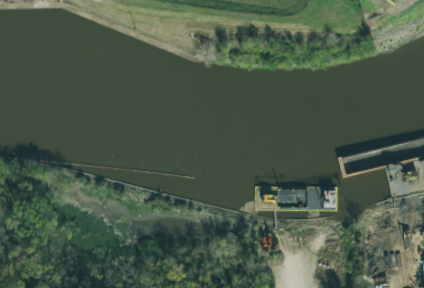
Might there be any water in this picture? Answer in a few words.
Yes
